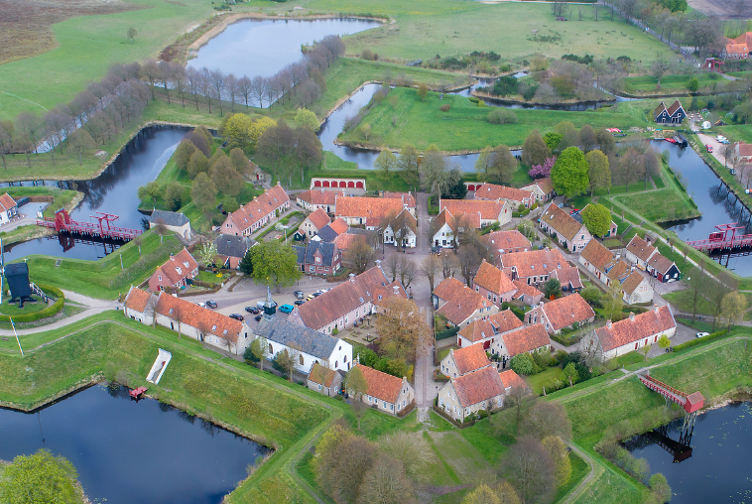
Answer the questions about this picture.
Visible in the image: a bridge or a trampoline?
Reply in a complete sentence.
The one in the frame is a bridge.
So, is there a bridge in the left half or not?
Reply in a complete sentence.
Yes, a bridge appears in the left half.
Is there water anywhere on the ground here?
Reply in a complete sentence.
Yes, some water is visible.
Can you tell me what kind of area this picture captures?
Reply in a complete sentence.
It's a residential area.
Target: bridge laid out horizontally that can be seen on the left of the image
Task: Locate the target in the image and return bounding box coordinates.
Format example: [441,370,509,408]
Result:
[35,205,143,242]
